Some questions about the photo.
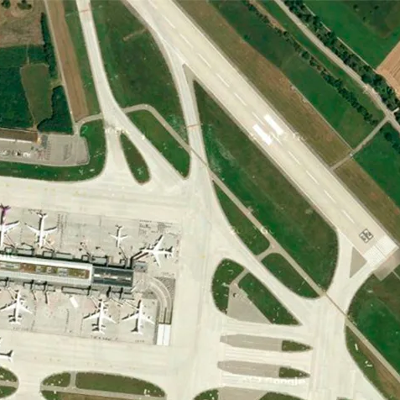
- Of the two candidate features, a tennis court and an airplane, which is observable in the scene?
airplane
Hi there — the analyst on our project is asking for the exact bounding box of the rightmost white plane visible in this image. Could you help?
[142,237,173,267]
